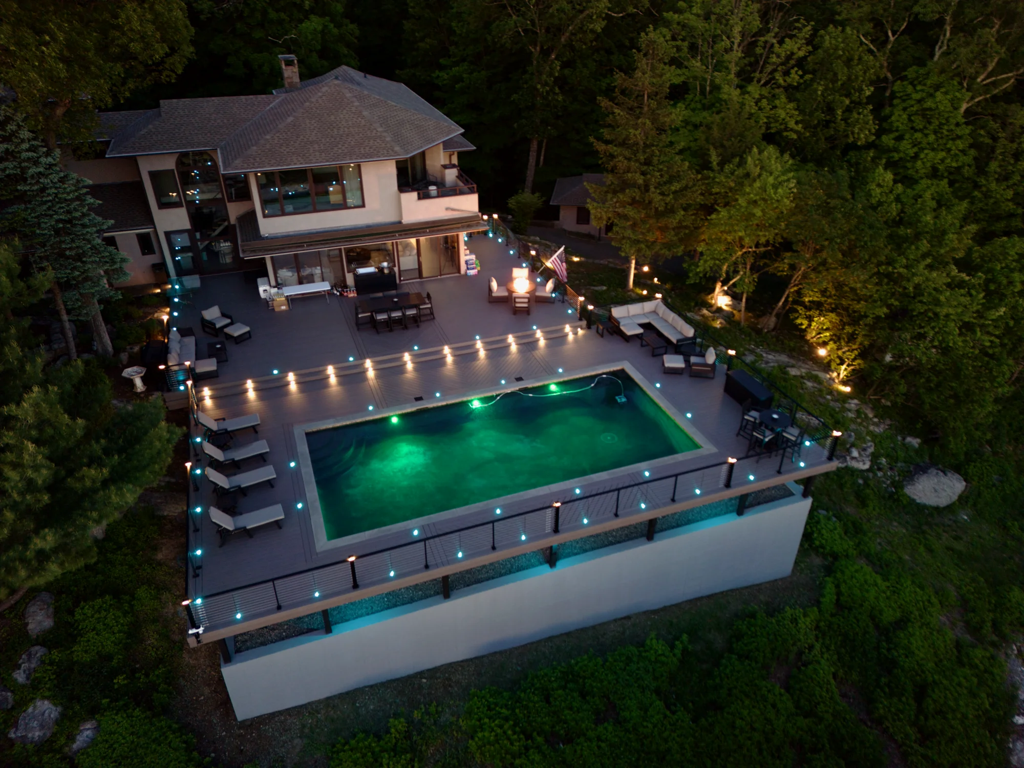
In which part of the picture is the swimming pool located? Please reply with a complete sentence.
The swimming pool appears toward the center of the photo.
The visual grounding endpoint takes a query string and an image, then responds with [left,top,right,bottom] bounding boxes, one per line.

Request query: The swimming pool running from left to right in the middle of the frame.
[294,361,718,551]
